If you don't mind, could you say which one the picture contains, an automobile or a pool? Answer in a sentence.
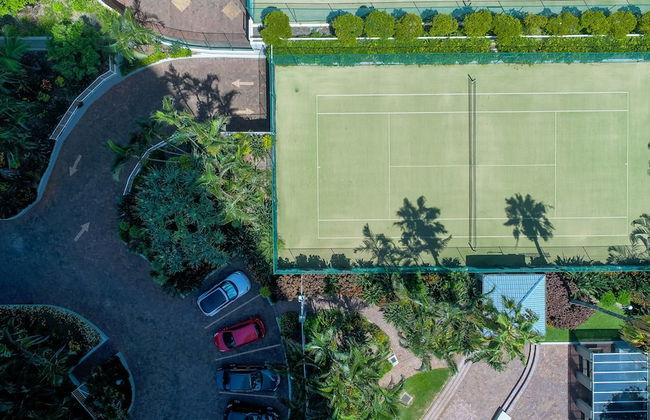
Looking from above, you can make out an automobile.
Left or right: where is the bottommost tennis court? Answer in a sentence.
The bottommost tennis court sits on the right side.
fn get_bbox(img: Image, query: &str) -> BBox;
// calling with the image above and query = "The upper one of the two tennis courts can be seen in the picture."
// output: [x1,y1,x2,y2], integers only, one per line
[253,0,650,22]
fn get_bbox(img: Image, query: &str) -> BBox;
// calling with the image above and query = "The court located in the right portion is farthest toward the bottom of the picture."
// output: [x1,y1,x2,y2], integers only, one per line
[274,65,650,267]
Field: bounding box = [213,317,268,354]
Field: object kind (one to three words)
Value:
car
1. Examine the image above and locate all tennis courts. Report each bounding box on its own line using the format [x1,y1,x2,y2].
[253,0,650,22]
[274,65,650,267]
